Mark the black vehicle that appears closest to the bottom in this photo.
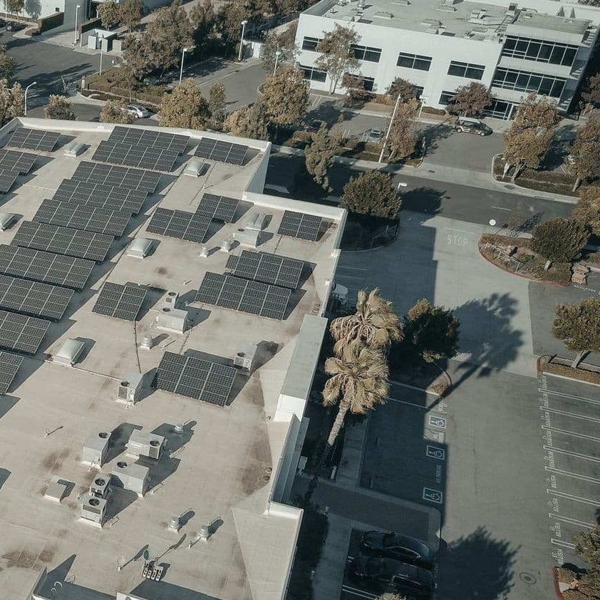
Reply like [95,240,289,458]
[357,548,439,596]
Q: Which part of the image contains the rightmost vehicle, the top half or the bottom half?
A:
top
